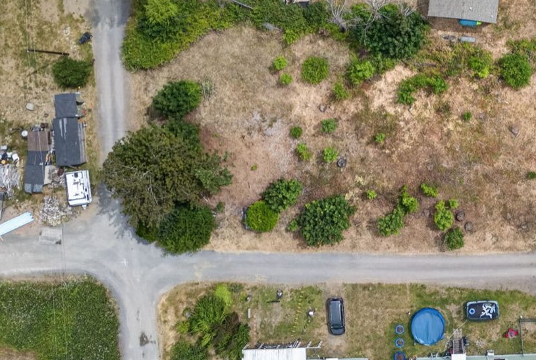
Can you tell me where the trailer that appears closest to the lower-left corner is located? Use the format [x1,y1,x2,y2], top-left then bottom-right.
[67,170,98,209]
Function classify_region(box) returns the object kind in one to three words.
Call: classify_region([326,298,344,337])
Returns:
car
